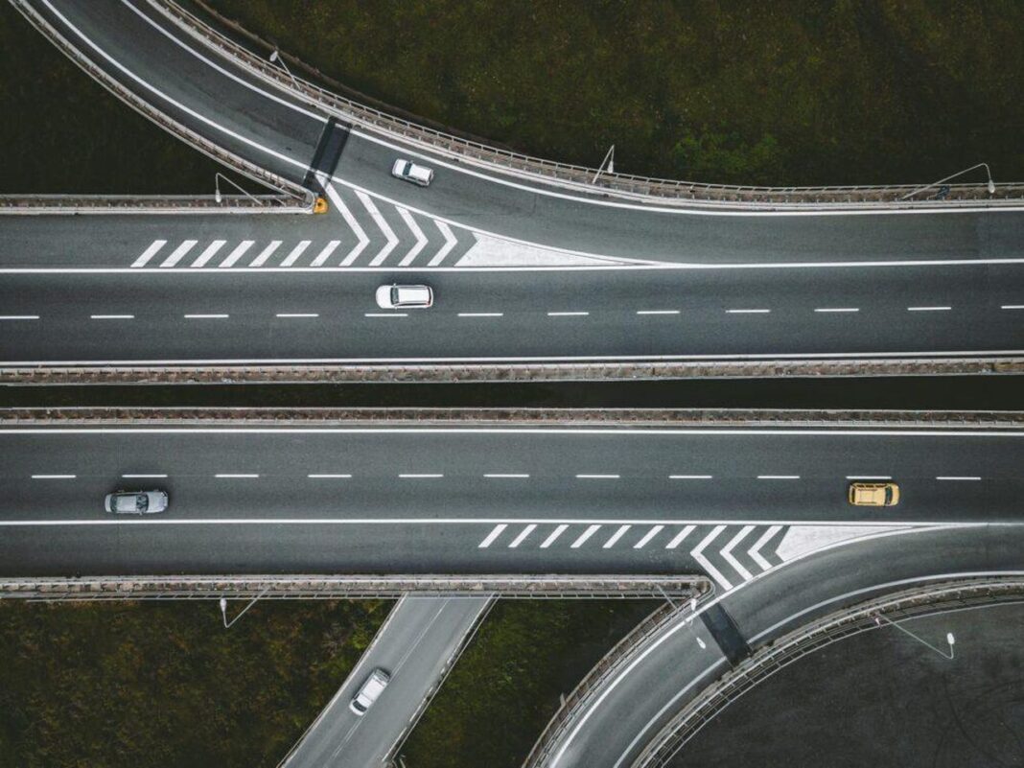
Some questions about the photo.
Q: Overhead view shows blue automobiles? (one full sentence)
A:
No, the picture doesn't show any blue automobile.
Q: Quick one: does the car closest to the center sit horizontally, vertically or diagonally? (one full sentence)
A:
The car closest to the center is oriented horizontally.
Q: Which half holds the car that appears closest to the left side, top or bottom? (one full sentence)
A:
You can find the car that appears closest to the left side in the bottom half.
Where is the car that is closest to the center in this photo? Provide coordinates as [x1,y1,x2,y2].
[376,282,433,311]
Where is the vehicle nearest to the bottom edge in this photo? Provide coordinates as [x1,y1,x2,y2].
[350,668,388,714]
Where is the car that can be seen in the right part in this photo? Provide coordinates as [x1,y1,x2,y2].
[846,481,897,509]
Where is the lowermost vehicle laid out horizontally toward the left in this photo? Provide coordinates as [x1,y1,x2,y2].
[106,489,169,518]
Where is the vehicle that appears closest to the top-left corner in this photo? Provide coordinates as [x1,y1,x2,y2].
[390,157,438,189]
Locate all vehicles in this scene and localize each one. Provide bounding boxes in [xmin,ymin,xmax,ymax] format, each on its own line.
[390,157,438,189]
[106,489,169,518]
[846,481,897,509]
[376,282,433,311]
[350,668,388,714]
